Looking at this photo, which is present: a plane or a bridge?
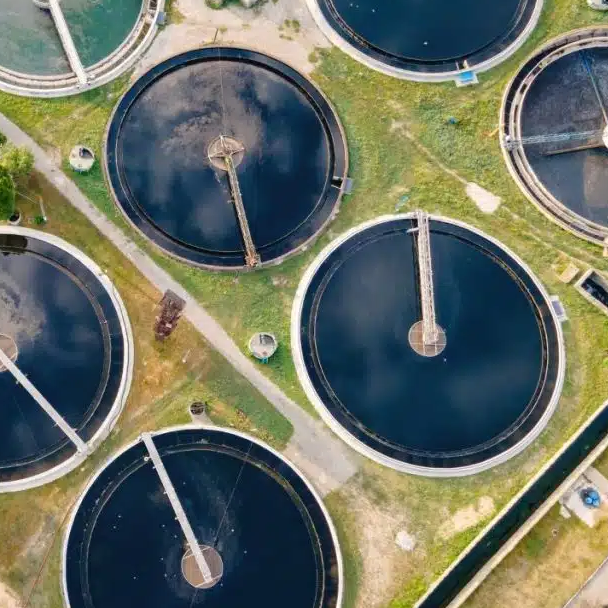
bridge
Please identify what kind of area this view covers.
industrial area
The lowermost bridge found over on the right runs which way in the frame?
vertically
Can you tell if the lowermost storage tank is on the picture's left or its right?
left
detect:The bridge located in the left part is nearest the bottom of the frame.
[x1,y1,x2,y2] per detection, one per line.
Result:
[136,431,213,582]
